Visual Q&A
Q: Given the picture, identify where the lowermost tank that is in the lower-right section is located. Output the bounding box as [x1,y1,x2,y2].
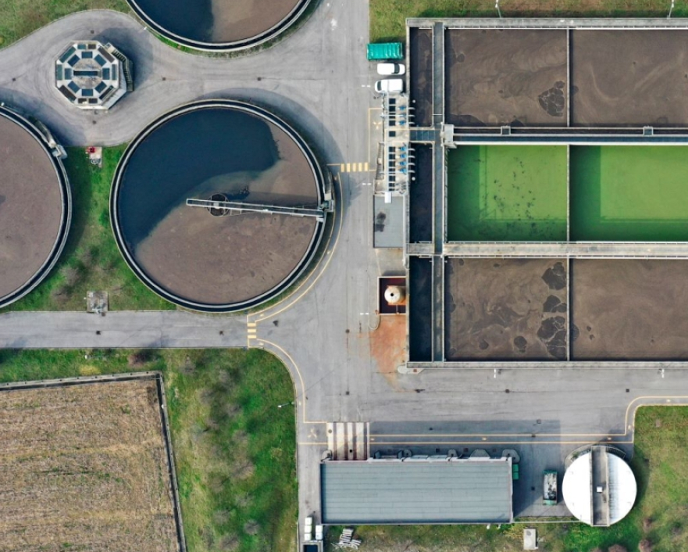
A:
[561,442,637,528]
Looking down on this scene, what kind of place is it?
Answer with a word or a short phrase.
industrial area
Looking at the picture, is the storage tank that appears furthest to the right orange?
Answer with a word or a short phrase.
No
